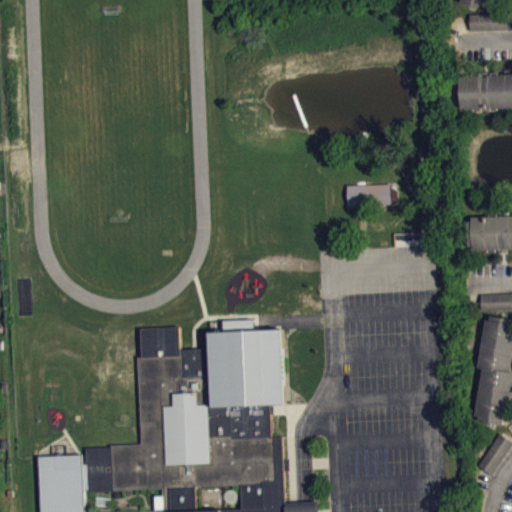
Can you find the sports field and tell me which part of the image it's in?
top left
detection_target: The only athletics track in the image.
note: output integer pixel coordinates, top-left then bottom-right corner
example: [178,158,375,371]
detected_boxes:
[26,0,212,314]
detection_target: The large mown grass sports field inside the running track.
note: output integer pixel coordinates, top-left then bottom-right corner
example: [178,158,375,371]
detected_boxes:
[56,0,181,221]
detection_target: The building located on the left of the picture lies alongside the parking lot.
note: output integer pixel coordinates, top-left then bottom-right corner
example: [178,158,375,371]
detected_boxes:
[82,320,284,512]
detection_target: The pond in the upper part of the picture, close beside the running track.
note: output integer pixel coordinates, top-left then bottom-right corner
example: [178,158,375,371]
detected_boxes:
[264,65,414,136]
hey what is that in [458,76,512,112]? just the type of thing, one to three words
house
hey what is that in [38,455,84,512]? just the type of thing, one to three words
building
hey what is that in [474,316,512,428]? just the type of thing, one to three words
house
